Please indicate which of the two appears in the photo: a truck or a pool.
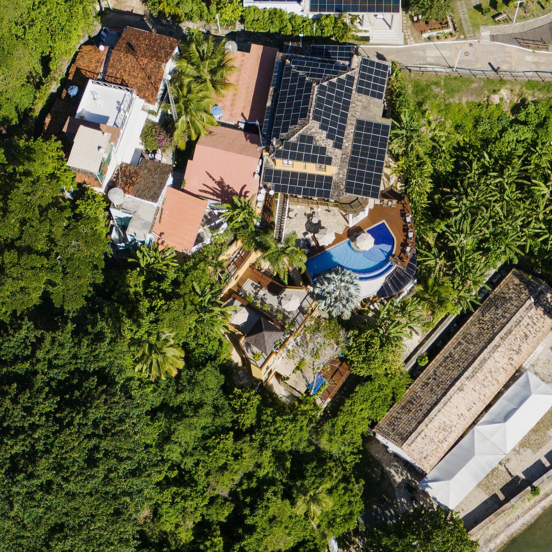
pool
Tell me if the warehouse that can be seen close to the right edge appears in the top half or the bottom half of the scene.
bottom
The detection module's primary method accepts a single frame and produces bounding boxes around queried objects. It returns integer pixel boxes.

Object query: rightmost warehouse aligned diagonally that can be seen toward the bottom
[374,268,552,475]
